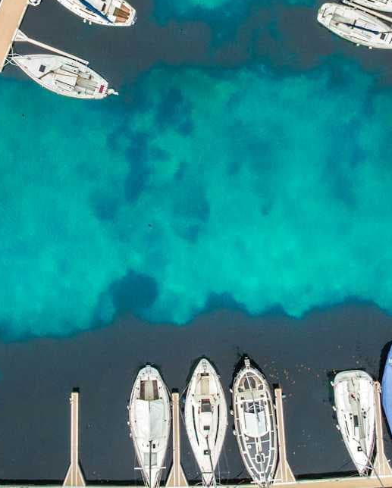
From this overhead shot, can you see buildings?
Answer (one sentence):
No, the scene contains no building.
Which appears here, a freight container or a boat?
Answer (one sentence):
It is a boat that can be seen here.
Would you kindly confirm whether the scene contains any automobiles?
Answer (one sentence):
No, there isn't any automobile down there.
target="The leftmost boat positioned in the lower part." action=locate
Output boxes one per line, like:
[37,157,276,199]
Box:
[127,360,171,488]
